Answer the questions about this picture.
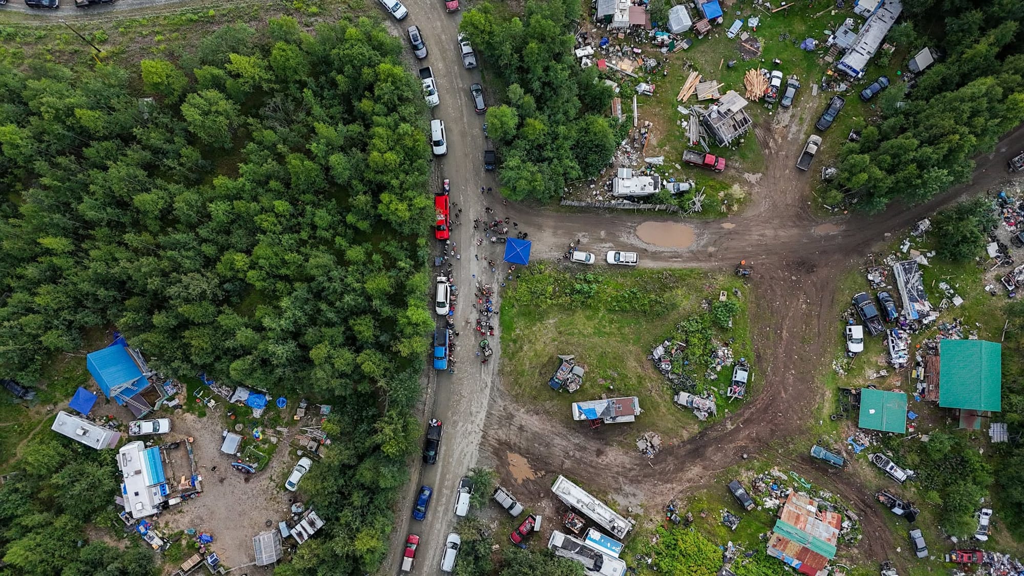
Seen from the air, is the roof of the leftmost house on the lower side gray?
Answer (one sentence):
No, from above the roof of the leftmost house on the lower side looks blue.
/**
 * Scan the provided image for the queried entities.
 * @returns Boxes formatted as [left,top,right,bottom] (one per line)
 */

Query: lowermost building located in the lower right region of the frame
[766,491,841,576]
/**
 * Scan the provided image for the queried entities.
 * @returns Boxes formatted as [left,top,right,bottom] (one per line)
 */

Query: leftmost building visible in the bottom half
[82,342,159,404]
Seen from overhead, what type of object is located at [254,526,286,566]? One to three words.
greenhouse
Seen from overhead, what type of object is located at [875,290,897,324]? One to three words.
car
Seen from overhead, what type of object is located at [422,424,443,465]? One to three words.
truck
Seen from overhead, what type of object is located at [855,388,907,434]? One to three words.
building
